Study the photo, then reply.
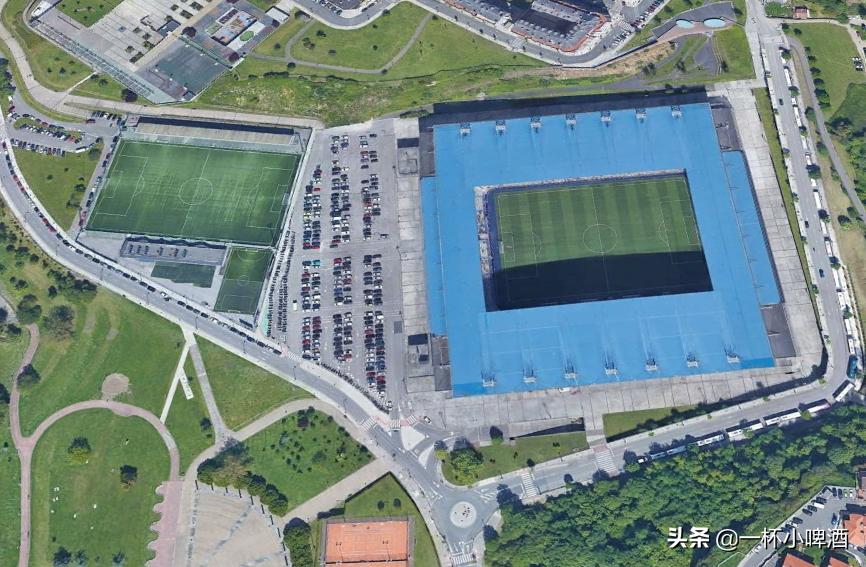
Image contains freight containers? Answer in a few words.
No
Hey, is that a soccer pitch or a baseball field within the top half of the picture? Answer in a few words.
soccer pitch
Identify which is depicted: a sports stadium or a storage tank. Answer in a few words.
sports stadium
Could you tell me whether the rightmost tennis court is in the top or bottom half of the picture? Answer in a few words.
bottom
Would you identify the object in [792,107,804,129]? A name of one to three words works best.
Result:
vehicle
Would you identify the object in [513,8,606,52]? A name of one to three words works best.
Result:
building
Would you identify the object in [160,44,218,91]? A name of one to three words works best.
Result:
sports court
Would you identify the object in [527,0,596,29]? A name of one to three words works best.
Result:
building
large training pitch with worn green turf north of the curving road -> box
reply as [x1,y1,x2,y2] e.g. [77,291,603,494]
[82,138,304,250]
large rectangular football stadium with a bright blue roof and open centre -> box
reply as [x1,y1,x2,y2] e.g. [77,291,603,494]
[419,96,797,399]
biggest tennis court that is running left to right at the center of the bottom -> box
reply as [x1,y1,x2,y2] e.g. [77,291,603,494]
[326,522,416,566]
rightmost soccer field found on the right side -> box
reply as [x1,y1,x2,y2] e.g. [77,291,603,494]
[491,175,711,305]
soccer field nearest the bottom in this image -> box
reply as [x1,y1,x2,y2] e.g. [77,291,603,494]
[214,246,272,314]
